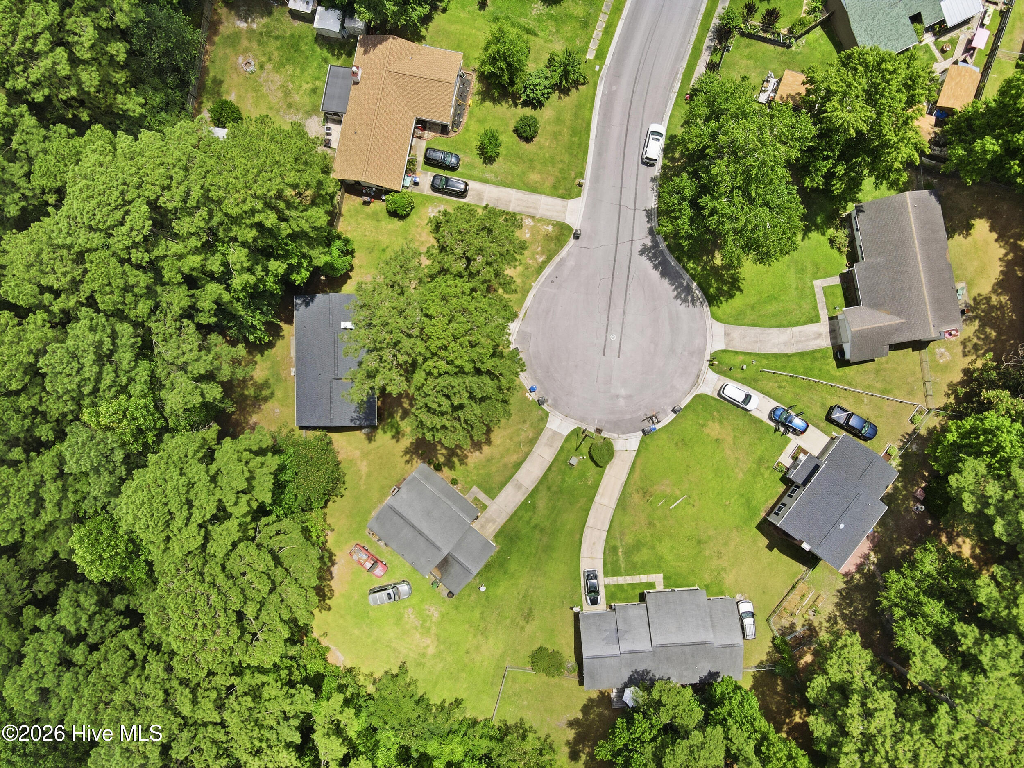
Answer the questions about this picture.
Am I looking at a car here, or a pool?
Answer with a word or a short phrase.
car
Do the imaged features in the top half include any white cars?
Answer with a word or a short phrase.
Yes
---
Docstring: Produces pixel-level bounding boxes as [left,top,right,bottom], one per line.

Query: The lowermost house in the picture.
[579,584,743,690]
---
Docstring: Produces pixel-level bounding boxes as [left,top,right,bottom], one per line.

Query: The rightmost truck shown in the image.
[823,403,876,441]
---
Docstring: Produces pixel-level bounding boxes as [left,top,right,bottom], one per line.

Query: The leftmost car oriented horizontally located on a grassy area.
[369,580,412,605]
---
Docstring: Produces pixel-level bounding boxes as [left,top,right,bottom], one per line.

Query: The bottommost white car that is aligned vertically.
[737,598,759,640]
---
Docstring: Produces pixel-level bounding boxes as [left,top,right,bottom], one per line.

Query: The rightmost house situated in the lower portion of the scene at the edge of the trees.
[769,433,899,571]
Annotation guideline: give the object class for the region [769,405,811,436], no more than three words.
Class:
car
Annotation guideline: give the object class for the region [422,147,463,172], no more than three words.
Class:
car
